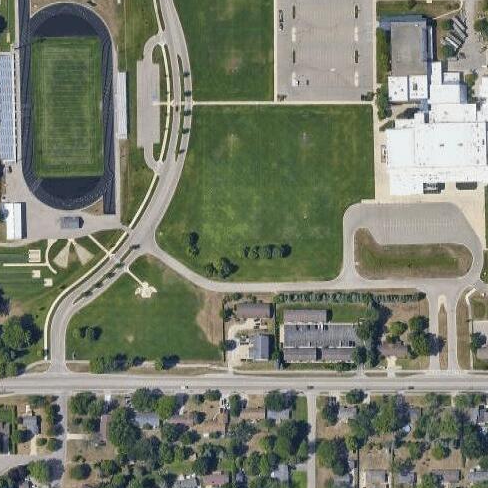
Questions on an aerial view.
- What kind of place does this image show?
sports ground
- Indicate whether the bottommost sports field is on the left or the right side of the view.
left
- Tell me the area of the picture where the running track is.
top left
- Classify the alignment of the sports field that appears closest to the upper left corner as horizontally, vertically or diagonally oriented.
vertically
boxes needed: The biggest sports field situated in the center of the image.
[154,105,373,282]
